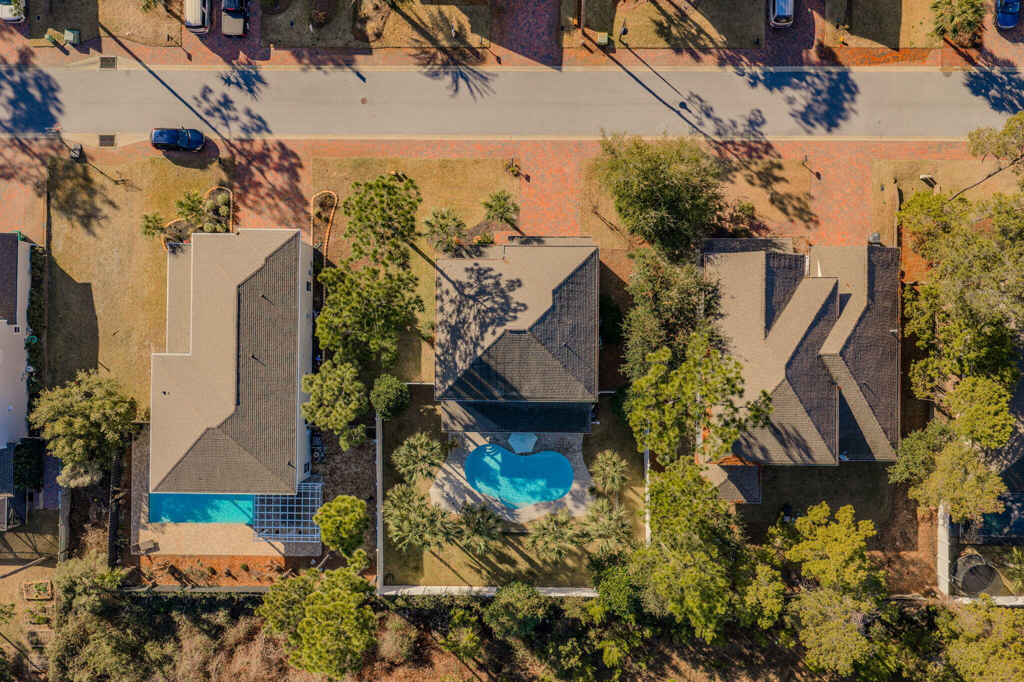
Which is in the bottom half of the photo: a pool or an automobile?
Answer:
pool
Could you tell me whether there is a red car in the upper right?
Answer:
No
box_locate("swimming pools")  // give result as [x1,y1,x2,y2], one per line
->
[147,475,257,526]
[462,441,576,512]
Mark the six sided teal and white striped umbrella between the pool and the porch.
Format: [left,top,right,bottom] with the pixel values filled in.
[508,433,537,458]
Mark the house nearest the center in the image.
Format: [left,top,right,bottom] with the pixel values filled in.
[432,236,599,433]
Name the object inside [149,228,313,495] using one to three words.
house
